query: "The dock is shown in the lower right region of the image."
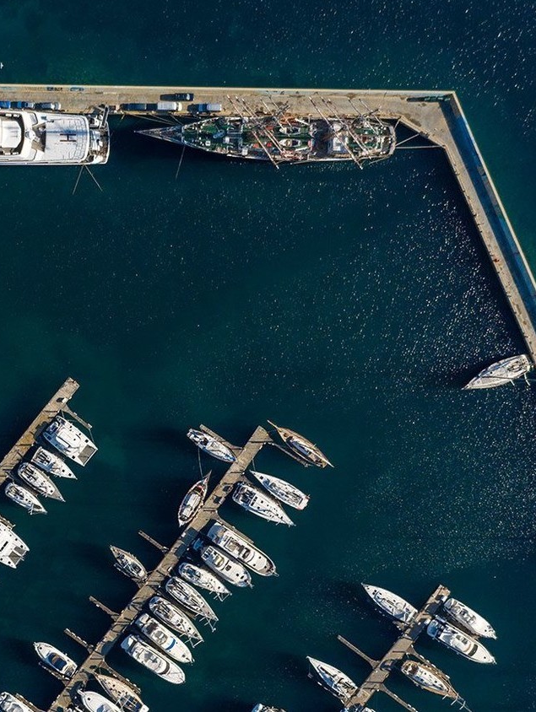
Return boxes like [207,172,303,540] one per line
[315,584,480,712]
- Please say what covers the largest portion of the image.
water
